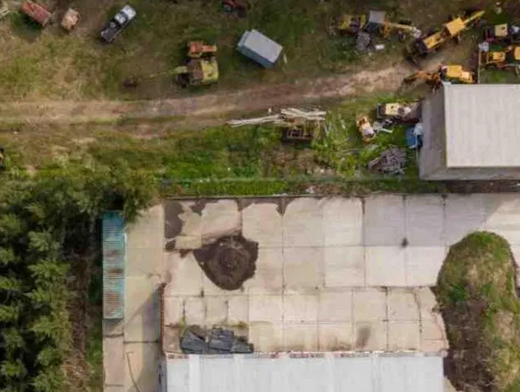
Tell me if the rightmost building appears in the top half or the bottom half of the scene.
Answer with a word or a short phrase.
top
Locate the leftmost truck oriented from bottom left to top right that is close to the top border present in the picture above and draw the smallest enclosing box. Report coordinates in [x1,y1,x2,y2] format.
[97,0,137,43]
